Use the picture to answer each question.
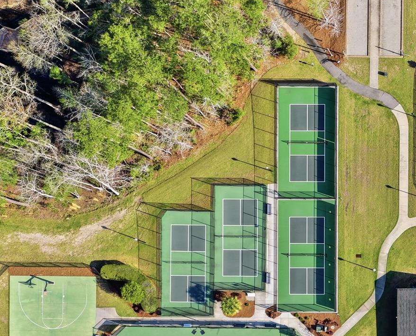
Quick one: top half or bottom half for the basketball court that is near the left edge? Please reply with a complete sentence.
It is in the bottom half that the basketball court that is near the left edge appears.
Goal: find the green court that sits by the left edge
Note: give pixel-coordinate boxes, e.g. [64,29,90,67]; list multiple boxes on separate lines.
[9,276,96,336]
